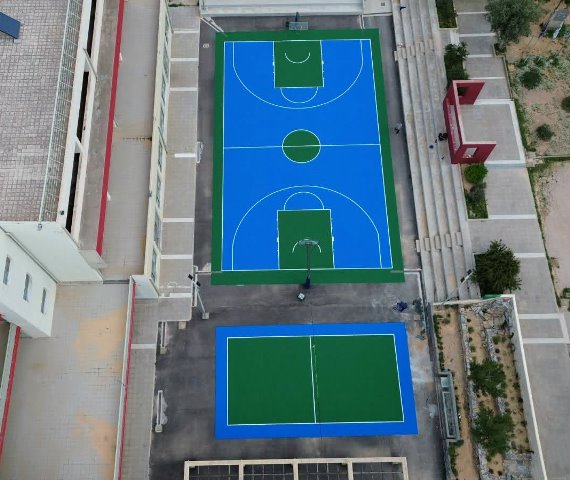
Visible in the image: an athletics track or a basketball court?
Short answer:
basketball court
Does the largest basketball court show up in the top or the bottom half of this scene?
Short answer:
top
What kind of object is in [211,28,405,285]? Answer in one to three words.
basketball court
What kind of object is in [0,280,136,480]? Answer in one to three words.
building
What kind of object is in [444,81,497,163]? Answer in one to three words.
building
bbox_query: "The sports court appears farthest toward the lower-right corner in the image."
[215,322,418,439]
